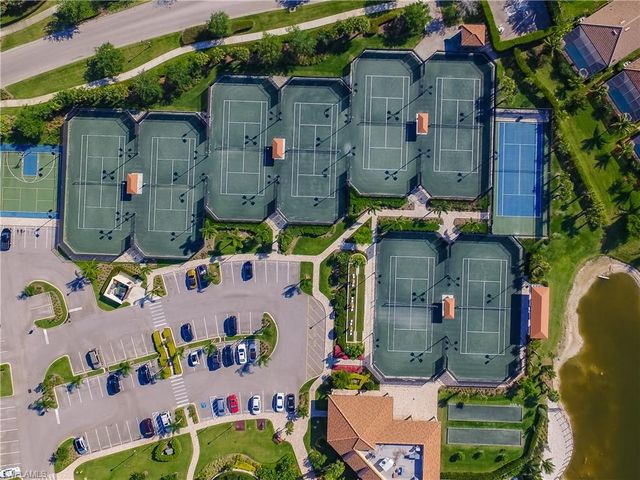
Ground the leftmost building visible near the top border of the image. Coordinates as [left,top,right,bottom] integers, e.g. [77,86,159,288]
[458,24,487,49]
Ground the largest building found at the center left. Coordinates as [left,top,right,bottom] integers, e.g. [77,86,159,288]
[104,274,136,303]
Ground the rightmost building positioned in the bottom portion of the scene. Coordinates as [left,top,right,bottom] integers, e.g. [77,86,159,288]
[526,282,551,340]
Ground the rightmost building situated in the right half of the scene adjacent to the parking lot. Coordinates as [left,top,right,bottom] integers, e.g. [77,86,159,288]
[328,391,441,480]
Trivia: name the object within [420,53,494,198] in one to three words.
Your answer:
tennis court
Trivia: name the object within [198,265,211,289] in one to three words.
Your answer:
vehicle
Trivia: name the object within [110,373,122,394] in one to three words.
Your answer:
vehicle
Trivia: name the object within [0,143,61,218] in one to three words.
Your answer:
basketball court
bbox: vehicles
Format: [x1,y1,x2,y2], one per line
[217,397,226,415]
[498,26,505,35]
[252,395,261,414]
[191,349,201,368]
[276,392,284,412]
[244,261,253,281]
[141,364,152,385]
[161,409,172,431]
[227,316,237,337]
[1,228,12,251]
[286,394,295,412]
[224,346,234,367]
[183,322,194,342]
[238,343,248,363]
[229,394,239,414]
[188,269,198,289]
[248,344,258,364]
[211,351,222,372]
[143,418,155,438]
[198,265,211,289]
[76,436,88,455]
[110,373,122,394]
